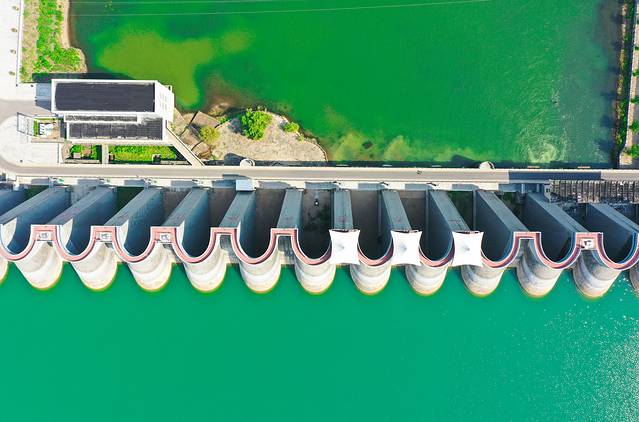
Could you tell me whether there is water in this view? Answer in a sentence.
Yes, water can be seen from above here.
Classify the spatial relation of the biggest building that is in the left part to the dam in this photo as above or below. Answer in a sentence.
The biggest building that is in the left part is above the dam.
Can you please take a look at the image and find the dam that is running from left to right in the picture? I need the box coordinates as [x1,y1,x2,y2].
[0,185,639,297]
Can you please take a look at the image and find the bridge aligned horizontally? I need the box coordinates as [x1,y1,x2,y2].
[56,156,639,185]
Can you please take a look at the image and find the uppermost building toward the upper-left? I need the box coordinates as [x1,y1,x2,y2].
[52,80,173,140]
